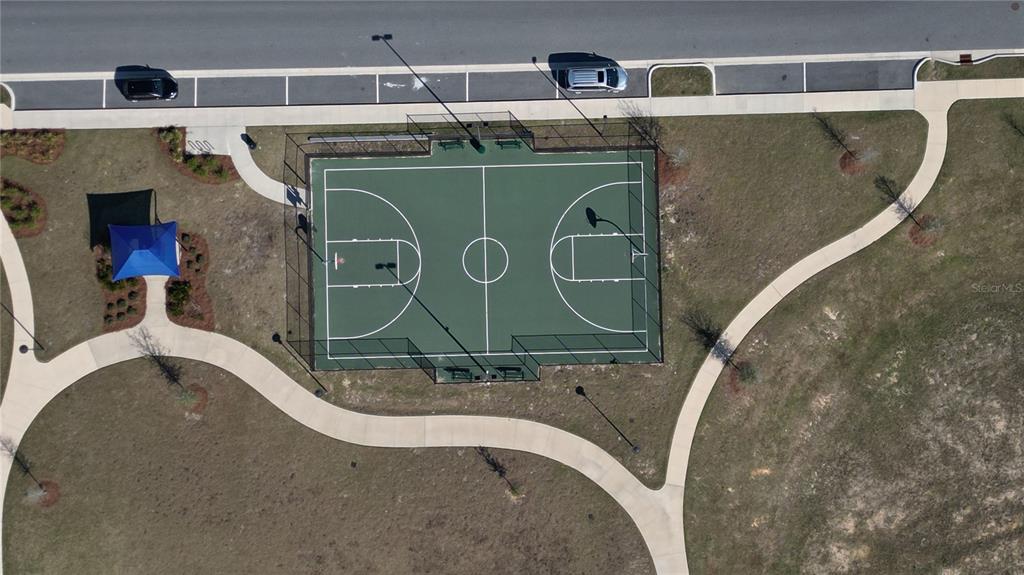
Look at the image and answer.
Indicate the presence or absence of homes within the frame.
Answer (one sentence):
No, I can't see a single home in this photo.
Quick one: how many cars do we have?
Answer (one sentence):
In total, 2 cars can be seen.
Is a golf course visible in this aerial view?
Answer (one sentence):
No, this view has no golf course in it.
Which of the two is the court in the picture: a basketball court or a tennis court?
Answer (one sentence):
The court can be classified as a basketball court.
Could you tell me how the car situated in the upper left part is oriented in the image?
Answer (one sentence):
The car situated in the upper left part runs from left to right in the image.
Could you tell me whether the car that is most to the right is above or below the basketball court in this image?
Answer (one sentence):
The car that is most to the right is located above the basketball court in this view.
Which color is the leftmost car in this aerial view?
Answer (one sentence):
The leftmost car looks black in the image.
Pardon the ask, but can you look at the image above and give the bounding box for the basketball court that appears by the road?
[312,137,660,382]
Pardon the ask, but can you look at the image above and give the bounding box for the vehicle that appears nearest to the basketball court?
[564,63,629,93]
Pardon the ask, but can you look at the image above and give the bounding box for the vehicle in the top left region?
[121,74,179,103]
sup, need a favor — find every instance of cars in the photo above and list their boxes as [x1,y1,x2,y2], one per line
[564,63,629,93]
[121,74,179,103]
